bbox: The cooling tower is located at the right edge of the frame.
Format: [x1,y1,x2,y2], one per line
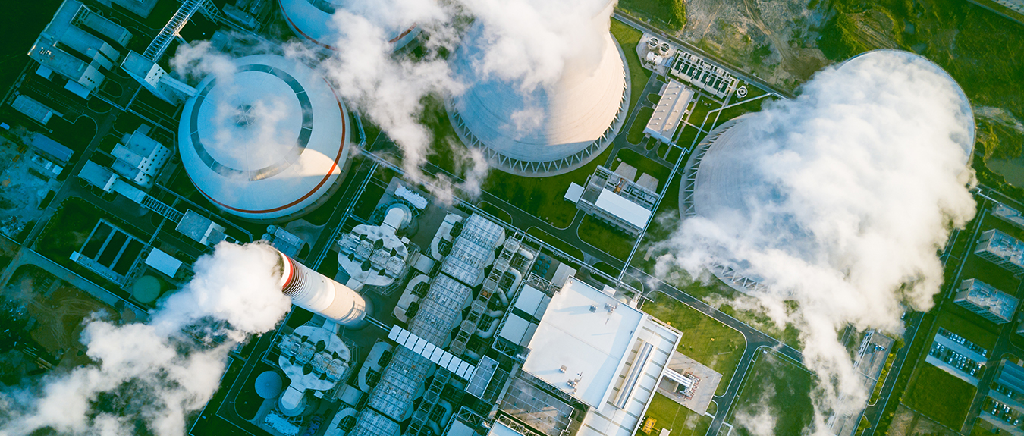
[674,49,975,304]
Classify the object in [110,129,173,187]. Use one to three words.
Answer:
house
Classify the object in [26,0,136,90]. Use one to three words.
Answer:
building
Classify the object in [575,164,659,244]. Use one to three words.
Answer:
building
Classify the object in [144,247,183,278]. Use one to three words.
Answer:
shed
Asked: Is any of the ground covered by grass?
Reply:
Yes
